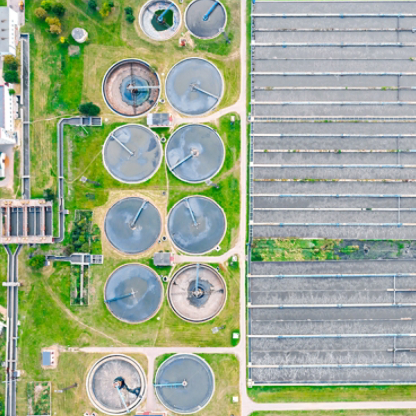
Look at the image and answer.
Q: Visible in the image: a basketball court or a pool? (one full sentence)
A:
It is a pool that can be seen here.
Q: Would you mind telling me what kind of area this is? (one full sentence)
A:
This image shows an industrial area.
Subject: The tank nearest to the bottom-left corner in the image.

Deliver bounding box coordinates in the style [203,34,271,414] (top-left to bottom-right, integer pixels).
[85,354,148,415]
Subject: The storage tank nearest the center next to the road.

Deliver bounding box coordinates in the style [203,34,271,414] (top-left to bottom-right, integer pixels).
[166,195,226,255]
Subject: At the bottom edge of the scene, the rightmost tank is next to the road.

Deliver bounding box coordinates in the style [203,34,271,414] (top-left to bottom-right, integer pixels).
[153,353,215,415]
